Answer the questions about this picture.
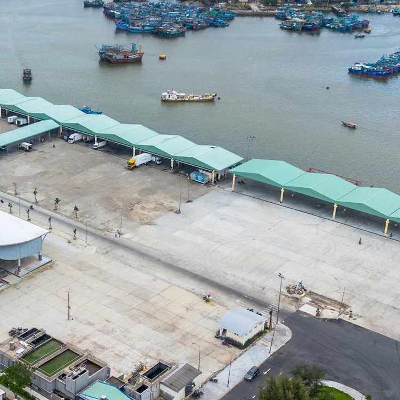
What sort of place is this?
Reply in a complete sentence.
This image shows an industrial area.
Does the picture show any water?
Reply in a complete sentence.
Yes, water can be seen from above here.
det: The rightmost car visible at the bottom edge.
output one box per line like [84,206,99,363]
[247,365,266,381]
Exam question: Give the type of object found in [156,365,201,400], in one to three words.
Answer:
house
